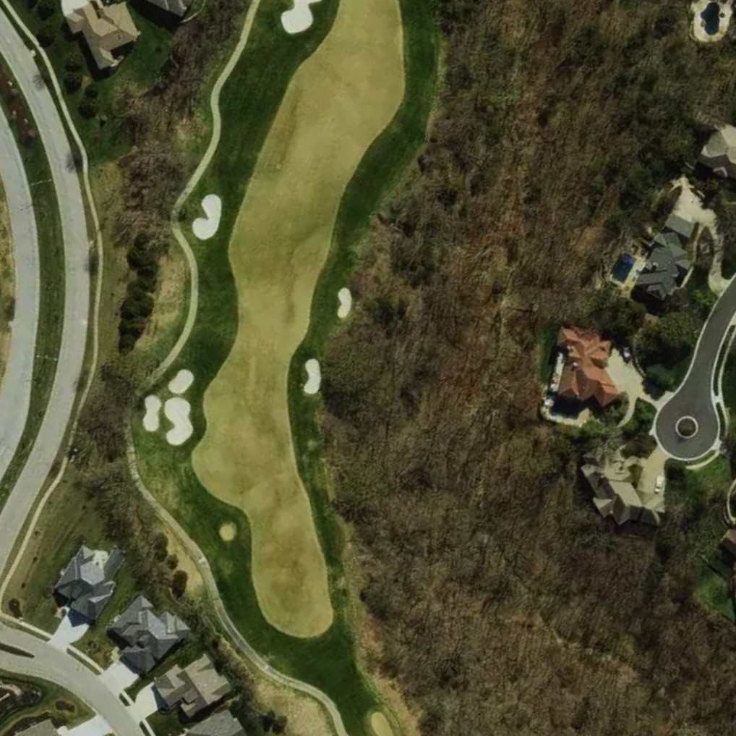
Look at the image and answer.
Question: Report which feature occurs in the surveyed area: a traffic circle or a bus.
traffic circle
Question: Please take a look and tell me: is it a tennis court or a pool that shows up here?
pool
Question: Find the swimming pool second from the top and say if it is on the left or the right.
right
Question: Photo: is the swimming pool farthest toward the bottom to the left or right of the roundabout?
left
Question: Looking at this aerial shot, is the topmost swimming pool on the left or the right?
right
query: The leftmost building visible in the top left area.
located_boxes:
[62,0,138,70]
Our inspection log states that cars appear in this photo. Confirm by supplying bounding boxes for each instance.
[621,346,630,360]
[655,477,663,493]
